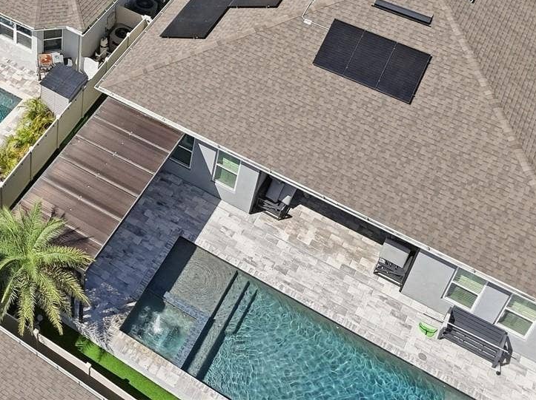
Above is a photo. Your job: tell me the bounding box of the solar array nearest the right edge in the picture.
[311,20,431,104]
